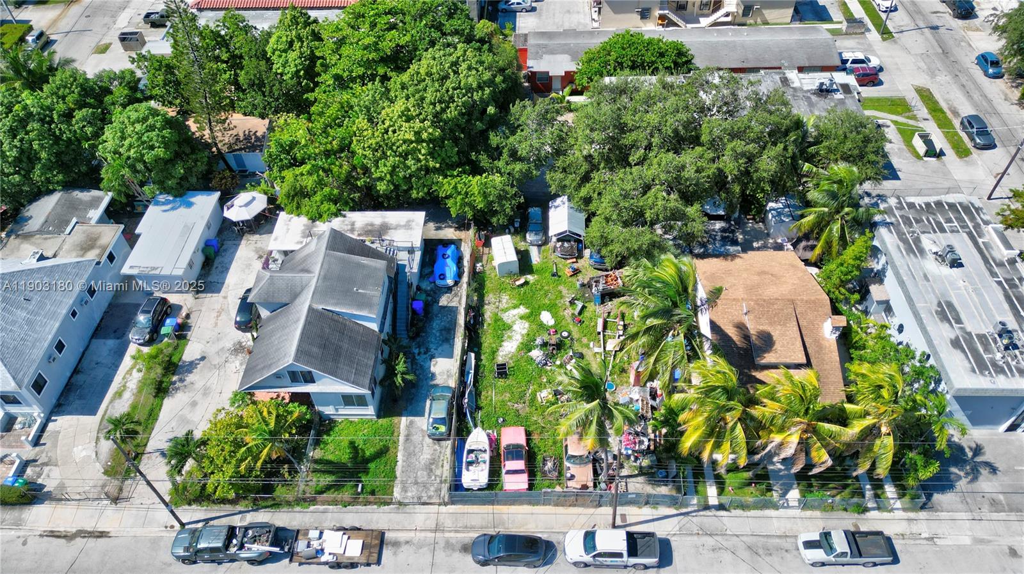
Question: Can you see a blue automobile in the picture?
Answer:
Yes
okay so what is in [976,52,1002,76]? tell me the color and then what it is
blue car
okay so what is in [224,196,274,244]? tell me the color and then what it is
white gazebo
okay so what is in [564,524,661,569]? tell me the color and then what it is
white truck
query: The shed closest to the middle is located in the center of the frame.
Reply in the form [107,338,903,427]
[497,234,517,276]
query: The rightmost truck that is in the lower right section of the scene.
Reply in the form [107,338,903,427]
[793,522,899,567]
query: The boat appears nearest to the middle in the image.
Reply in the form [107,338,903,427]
[460,354,475,416]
